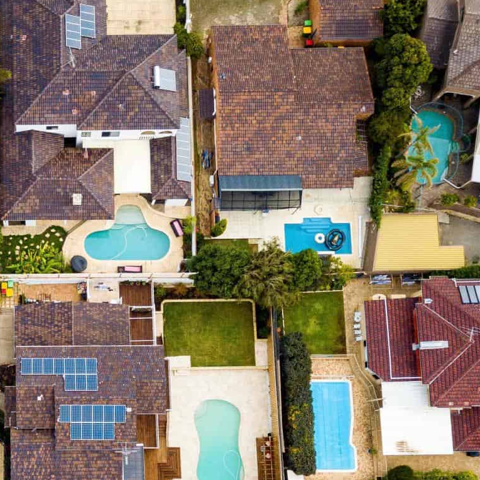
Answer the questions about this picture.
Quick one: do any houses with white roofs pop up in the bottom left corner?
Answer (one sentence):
No, the scene shows no house with a white roof in the bottom left corner.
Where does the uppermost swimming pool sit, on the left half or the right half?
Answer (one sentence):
You can find the uppermost swimming pool on the right side of the picture.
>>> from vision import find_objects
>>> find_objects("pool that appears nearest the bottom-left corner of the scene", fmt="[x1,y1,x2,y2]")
[191,396,248,480]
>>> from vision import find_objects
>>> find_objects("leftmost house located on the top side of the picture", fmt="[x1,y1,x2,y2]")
[0,0,192,224]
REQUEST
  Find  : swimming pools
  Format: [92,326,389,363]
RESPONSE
[81,201,174,264]
[283,215,353,256]
[311,379,359,472]
[403,105,458,188]
[191,396,248,480]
